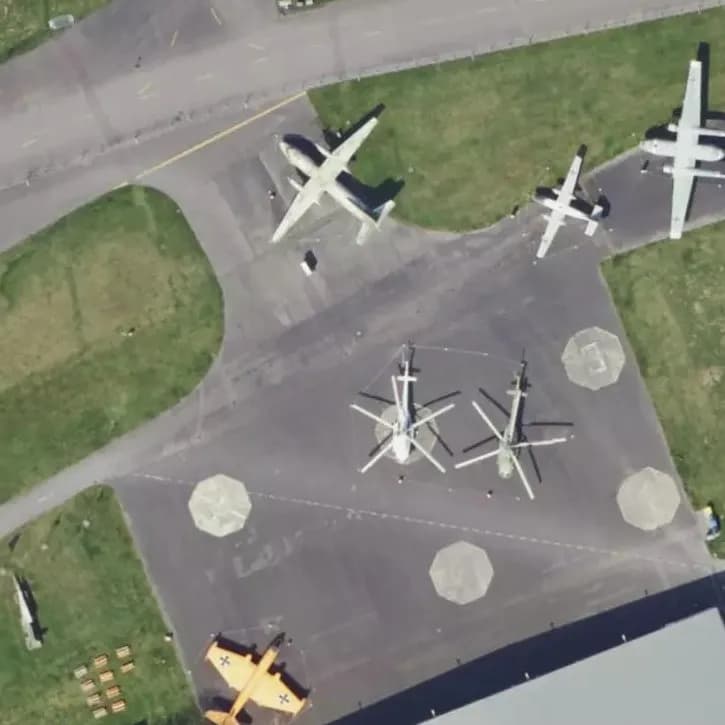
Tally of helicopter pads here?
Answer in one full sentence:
The count of helicopter pads comes to 5.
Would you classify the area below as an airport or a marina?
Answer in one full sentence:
This looks like an airport.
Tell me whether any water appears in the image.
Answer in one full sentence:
No, there is no water in the image.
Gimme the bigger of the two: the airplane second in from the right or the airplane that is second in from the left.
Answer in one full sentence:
The airplane that is second in from the left takes up more space than the airplane second in from the right.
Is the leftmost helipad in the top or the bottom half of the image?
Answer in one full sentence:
The leftmost helipad sits in the bottom half of the picture.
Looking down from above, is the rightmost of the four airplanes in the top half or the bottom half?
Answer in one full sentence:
The top half of the photo is where the rightmost of the four airplanes is.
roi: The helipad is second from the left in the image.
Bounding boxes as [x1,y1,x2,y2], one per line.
[375,400,438,462]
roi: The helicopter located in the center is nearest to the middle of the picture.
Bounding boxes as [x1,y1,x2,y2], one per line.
[352,353,455,472]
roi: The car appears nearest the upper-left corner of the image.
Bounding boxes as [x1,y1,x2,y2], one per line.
[49,16,74,28]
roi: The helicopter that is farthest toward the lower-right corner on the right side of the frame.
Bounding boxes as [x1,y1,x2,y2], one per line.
[456,367,567,498]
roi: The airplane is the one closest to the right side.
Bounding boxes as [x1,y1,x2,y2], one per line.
[640,62,725,238]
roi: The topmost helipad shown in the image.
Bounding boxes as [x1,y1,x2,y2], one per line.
[562,326,625,389]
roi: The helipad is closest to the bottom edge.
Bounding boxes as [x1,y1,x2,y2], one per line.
[430,541,493,604]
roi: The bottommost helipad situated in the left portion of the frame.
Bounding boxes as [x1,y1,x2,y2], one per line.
[189,473,252,537]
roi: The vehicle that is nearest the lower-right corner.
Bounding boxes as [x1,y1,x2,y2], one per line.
[704,507,720,541]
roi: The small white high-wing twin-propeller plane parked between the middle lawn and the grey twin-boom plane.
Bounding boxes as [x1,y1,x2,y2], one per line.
[532,156,603,257]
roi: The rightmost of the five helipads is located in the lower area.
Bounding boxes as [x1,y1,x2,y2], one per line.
[617,467,680,530]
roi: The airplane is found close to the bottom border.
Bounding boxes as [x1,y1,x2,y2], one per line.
[203,633,306,725]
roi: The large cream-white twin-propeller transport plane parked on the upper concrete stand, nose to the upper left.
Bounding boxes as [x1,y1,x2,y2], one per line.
[271,118,395,245]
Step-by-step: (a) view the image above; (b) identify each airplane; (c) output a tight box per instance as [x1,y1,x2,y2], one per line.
[271,118,395,245]
[640,62,725,238]
[532,156,603,257]
[203,633,306,725]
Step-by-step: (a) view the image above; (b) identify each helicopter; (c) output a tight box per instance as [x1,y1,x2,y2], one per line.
[352,353,455,472]
[456,367,567,498]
